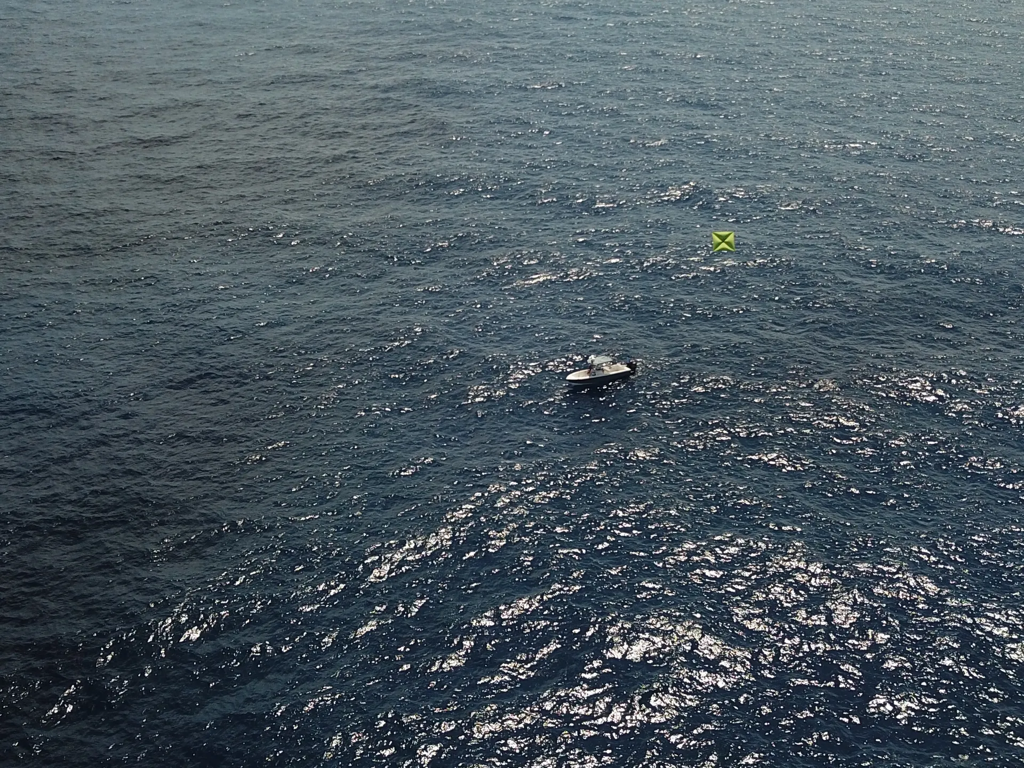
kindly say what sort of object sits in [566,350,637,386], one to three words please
boat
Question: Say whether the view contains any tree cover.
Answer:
No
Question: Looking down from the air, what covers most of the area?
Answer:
water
